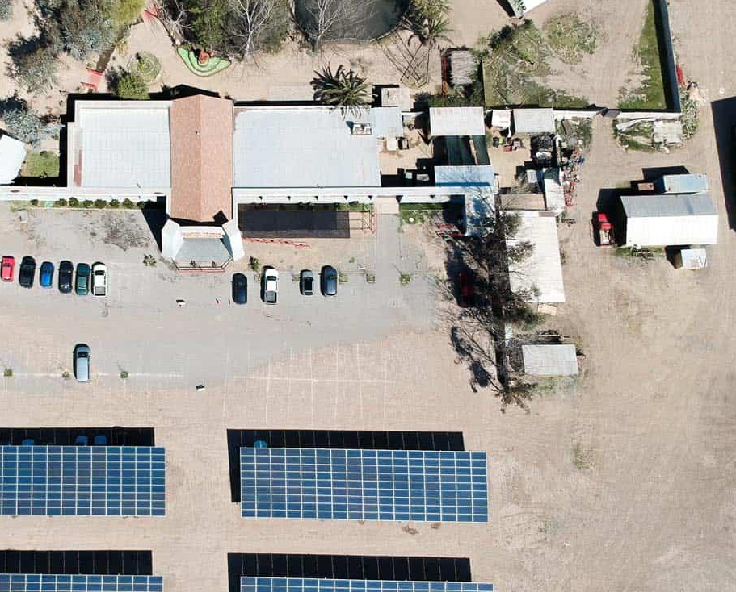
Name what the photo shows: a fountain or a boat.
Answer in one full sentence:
This aerial view contains a fountain.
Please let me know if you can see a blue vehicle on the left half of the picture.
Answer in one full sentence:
Yes, a blue vehicle is visible on the left half of the picture.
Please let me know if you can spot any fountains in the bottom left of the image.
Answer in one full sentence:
No, no fountain appears in the bottom left of the image.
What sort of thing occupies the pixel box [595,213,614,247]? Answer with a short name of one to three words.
vehicle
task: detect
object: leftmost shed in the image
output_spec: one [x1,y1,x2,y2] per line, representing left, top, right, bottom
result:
[0,135,30,186]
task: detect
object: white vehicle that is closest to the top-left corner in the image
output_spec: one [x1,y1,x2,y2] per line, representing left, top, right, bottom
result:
[92,262,108,297]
